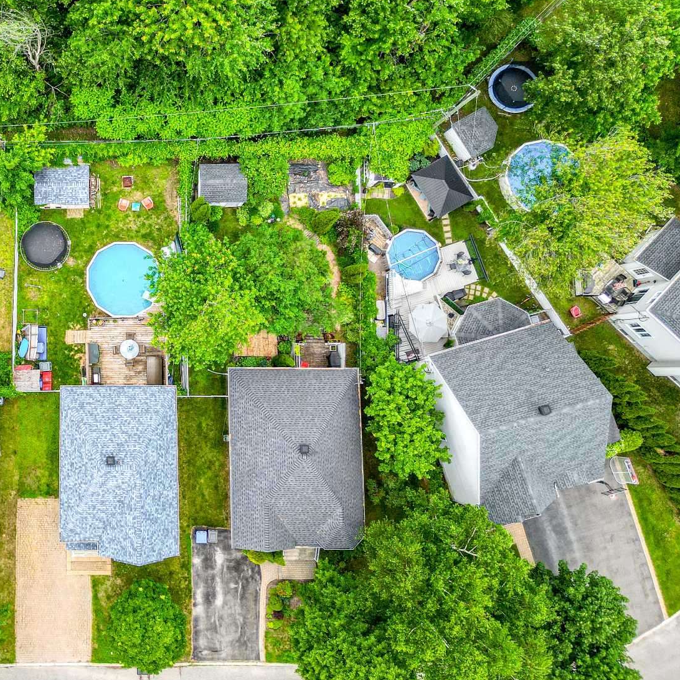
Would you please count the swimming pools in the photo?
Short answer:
3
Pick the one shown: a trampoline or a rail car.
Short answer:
trampoline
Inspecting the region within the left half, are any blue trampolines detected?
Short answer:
No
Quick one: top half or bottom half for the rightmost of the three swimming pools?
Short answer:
top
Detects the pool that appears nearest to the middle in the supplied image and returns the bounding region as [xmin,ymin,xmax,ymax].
[382,228,440,283]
